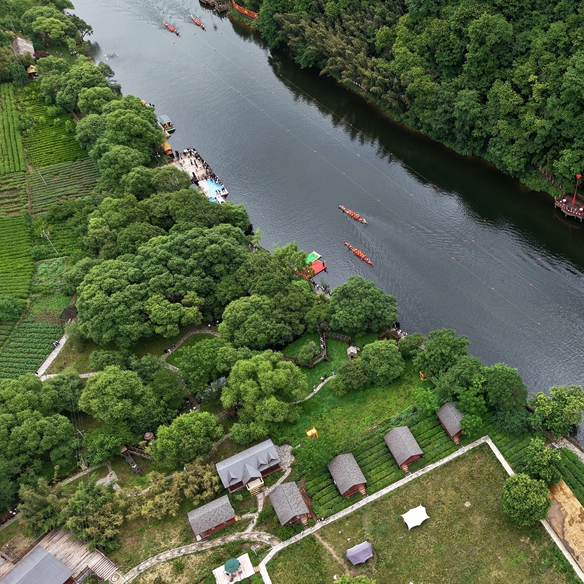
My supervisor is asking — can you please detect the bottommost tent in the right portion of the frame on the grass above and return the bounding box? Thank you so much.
[346,541,376,568]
